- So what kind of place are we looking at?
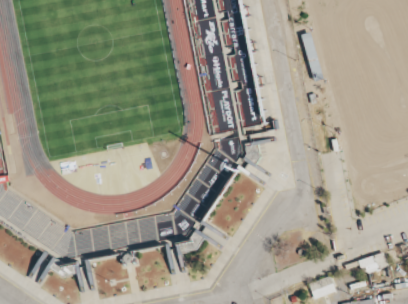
sports ground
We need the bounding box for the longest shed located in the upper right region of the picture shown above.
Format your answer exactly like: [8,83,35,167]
[302,32,323,80]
